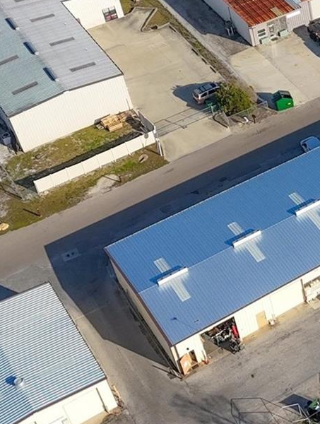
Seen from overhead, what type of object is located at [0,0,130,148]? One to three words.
building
